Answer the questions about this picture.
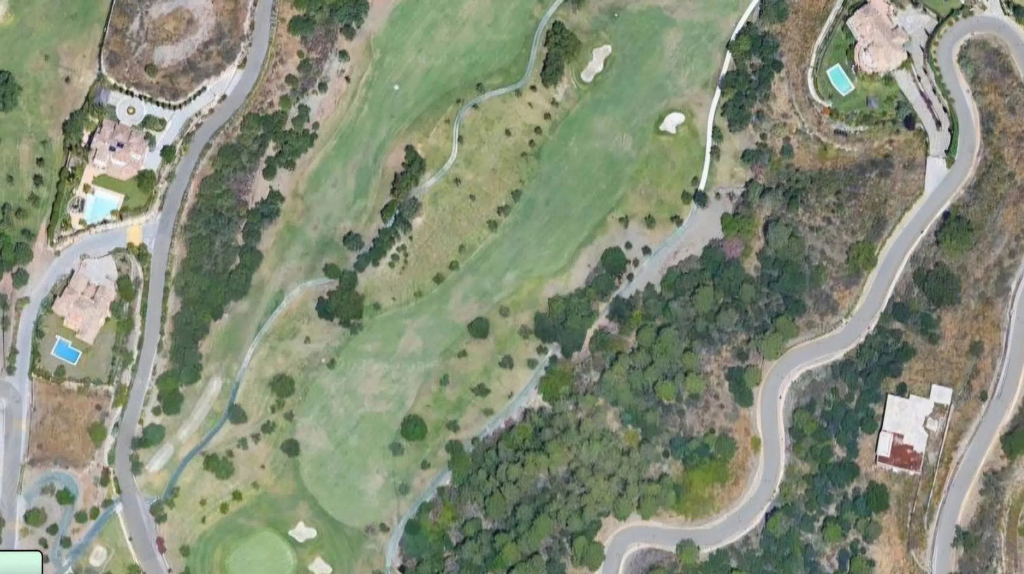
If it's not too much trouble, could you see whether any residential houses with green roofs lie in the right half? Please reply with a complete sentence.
No, I see no residential house with a green roof in the right half.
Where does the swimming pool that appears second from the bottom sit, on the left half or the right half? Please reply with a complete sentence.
The swimming pool that appears second from the bottom is on the left side of the image.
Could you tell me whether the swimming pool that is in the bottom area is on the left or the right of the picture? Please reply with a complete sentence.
You can find the swimming pool that is in the bottom area on the left side of the picture.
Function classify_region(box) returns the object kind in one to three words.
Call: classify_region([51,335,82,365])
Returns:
swimming pool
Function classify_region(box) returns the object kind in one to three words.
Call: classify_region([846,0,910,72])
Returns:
house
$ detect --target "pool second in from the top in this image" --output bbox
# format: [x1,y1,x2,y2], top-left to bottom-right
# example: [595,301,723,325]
[83,185,125,224]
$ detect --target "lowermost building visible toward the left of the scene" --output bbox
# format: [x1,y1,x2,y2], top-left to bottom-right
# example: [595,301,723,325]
[49,271,115,346]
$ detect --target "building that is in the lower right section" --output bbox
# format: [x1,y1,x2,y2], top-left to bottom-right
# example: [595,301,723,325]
[877,384,954,472]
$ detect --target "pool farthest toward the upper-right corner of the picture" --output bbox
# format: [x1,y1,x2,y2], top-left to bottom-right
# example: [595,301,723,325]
[826,63,854,96]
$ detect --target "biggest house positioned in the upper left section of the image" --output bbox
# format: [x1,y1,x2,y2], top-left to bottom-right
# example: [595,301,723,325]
[88,118,149,181]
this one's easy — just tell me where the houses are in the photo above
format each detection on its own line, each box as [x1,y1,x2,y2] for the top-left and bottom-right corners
[49,271,115,346]
[88,118,149,181]
[846,0,910,72]
[877,384,954,472]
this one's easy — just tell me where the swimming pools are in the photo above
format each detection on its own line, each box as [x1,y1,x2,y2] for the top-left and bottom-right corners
[83,185,125,224]
[51,335,82,365]
[826,63,854,96]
